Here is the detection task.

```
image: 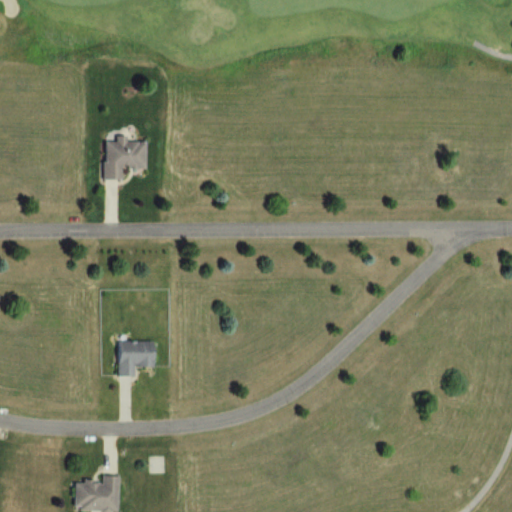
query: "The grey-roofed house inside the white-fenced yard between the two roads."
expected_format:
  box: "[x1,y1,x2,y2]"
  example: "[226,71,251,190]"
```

[118,342,157,376]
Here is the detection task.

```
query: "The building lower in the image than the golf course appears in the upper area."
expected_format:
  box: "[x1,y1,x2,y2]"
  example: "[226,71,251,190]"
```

[104,136,147,178]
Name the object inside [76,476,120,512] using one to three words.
house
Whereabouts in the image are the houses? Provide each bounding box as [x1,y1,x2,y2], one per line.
[118,342,157,376]
[76,476,120,512]
[104,136,147,178]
